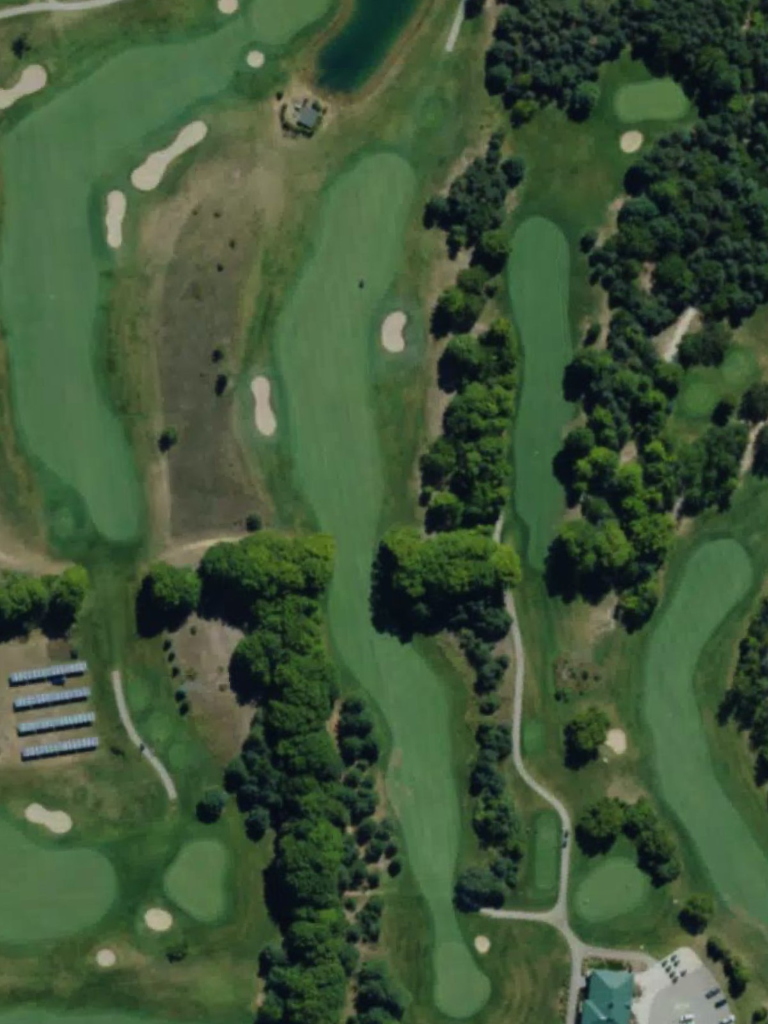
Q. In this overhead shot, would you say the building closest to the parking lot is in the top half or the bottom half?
bottom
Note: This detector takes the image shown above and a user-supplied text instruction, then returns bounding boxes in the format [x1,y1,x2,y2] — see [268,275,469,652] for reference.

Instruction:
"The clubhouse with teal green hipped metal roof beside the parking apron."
[583,971,635,1024]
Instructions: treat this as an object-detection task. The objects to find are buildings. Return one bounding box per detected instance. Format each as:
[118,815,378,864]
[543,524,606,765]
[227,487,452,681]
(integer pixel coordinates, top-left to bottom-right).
[583,971,635,1024]
[299,108,316,126]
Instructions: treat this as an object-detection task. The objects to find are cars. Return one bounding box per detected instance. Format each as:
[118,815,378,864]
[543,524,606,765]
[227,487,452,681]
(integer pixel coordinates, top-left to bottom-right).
[680,1014,695,1021]
[706,988,720,999]
[722,1015,735,1024]
[715,999,728,1009]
